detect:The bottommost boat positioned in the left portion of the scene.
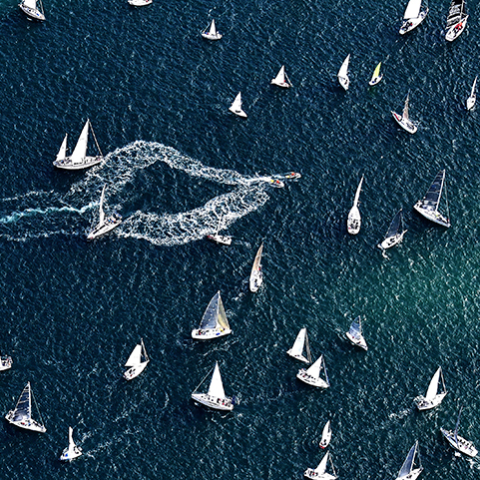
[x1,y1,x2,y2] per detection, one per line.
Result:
[61,429,82,460]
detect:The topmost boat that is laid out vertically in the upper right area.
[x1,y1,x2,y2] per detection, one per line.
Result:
[447,0,468,41]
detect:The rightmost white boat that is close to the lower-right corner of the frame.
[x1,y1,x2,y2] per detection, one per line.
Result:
[441,408,479,457]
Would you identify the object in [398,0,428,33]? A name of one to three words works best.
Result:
boat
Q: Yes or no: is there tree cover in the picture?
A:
No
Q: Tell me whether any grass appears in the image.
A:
No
